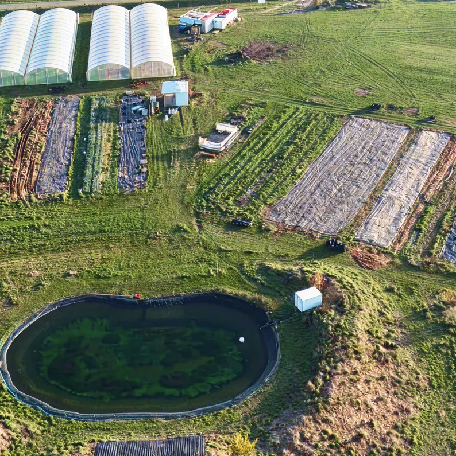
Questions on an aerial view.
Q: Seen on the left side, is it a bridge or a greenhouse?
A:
greenhouse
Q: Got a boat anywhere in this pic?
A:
No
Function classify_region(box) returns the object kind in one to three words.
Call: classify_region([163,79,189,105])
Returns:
shed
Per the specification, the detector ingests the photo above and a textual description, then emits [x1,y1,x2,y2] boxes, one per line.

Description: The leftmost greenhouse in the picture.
[0,11,85,86]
